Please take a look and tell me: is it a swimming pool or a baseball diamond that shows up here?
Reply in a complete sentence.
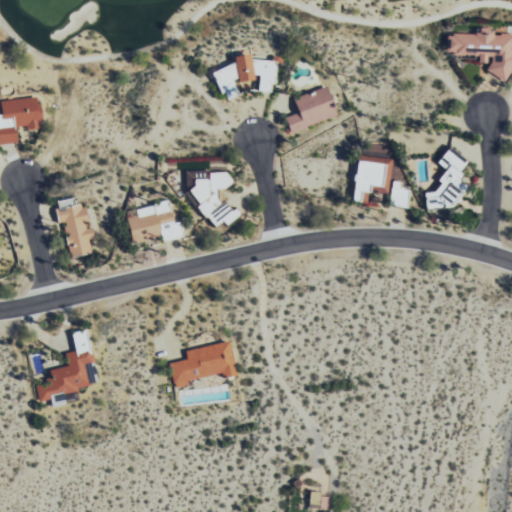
I can see a swimming pool in this picture.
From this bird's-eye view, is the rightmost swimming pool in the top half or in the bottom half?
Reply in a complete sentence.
You can find the rightmost swimming pool in the top half.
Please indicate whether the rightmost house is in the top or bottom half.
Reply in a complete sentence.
It is in the top half that the rightmost house appears.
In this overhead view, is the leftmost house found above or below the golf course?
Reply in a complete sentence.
Relative to the golf course, the leftmost house lies below it.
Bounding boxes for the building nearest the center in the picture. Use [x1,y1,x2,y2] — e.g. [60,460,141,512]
[186,171,242,227]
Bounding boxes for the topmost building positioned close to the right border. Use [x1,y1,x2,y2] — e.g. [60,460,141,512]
[449,25,512,82]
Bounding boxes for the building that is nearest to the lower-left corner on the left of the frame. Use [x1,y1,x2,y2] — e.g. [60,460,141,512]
[35,330,98,408]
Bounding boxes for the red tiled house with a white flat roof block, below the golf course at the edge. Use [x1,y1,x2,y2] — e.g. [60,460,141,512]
[0,97,42,143]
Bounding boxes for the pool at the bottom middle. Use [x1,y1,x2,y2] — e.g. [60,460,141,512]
[178,384,230,408]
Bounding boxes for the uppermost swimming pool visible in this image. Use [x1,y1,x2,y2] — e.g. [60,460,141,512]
[289,61,322,91]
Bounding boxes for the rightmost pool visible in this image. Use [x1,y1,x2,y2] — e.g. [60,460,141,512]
[409,157,437,190]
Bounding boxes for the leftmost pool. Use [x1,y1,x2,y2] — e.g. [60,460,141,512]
[30,353,47,378]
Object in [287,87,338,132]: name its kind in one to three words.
house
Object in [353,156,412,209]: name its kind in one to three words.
house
